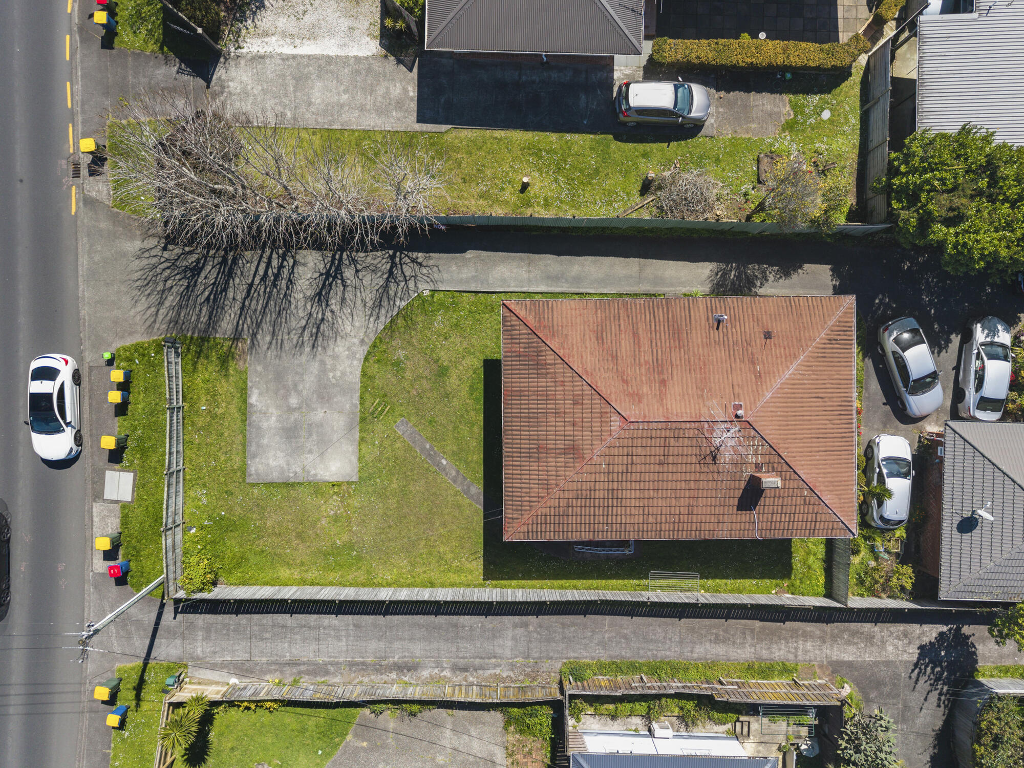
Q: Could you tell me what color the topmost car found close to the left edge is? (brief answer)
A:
white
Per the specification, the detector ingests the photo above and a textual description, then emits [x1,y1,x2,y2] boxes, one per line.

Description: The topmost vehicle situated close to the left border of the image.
[20,353,80,465]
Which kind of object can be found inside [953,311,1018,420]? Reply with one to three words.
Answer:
car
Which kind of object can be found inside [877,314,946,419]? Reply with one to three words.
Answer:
car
